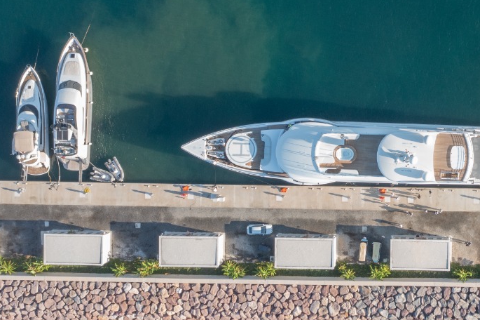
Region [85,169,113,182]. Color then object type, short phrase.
gray boat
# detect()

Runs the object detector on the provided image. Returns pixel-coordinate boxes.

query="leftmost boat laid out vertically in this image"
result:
[11,65,53,174]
